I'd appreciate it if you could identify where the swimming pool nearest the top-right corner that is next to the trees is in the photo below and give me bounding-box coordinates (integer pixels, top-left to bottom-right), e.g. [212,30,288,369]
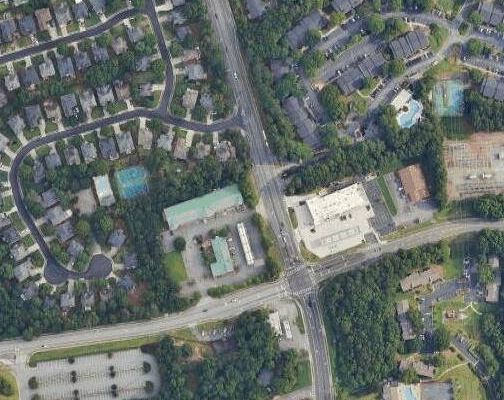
[397,95,423,130]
